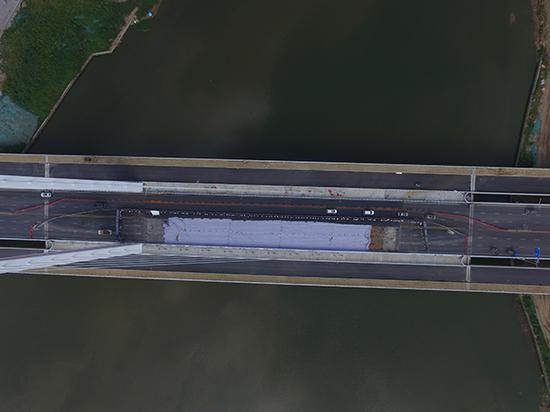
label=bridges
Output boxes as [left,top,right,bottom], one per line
[0,153,550,294]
